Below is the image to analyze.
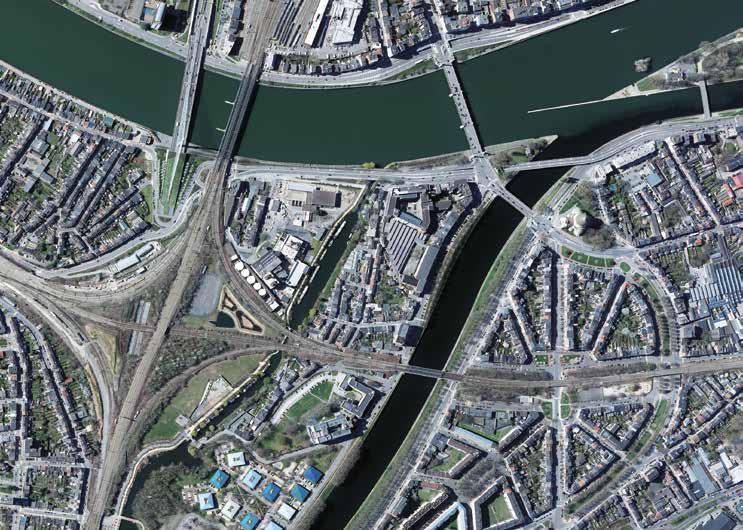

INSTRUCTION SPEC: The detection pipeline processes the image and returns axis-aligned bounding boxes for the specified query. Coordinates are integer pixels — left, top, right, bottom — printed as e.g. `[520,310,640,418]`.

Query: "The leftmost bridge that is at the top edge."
[171,0,210,151]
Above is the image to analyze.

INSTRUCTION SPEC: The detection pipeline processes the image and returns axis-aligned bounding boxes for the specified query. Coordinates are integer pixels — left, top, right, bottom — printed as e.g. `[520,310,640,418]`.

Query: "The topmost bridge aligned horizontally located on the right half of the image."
[491,154,591,174]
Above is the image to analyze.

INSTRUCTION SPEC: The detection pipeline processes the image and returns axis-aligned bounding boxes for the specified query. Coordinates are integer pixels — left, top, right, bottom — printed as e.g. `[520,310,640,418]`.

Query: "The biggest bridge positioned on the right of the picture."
[439,57,485,161]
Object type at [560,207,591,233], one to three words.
building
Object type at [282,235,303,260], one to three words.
building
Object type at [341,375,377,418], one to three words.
house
